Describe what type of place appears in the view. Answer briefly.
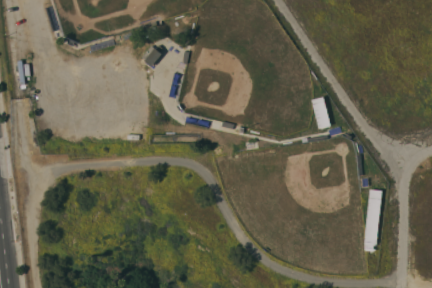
sports ground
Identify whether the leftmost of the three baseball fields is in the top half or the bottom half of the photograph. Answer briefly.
top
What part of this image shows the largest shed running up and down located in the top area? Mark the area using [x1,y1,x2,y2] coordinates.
[312,97,330,129]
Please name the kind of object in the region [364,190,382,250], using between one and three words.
shed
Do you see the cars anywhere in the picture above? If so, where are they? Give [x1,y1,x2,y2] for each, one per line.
[8,6,18,12]
[16,18,26,26]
